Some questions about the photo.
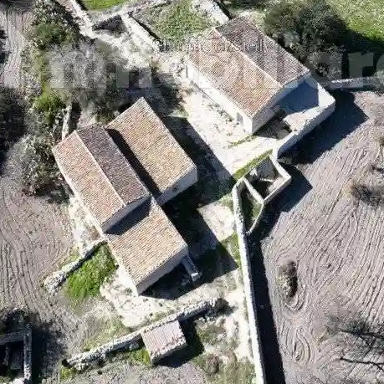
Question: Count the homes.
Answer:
two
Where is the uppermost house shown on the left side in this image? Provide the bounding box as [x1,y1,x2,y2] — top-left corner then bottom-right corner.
[50,96,197,293]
